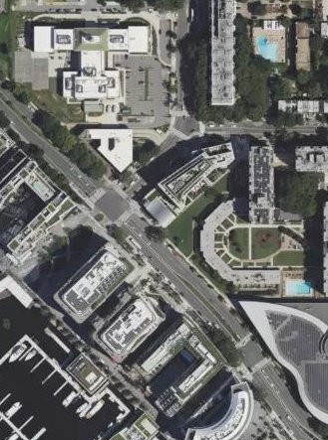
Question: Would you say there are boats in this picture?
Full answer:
Yes, a boat can be made out from above.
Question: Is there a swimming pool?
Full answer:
Yes, the image includes a swimming pool.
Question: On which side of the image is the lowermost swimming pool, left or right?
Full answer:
It is on the right.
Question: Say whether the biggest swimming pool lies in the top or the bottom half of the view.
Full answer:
The biggest swimming pool sits in the top half of the picture.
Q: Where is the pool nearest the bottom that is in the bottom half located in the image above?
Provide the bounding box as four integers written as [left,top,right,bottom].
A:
[281,272,314,297]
